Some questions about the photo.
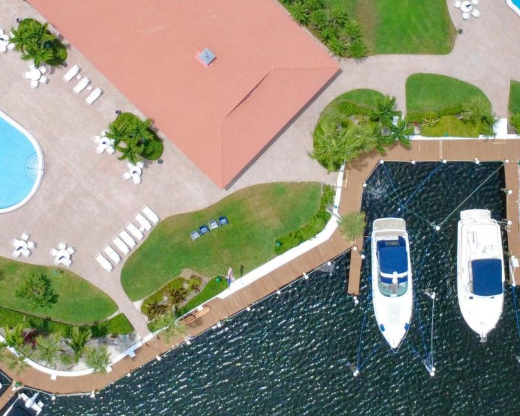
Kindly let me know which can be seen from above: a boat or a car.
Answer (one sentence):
I can see a boat in this picture.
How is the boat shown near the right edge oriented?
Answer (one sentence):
In this picture, the boat shown near the right edge lies up and down.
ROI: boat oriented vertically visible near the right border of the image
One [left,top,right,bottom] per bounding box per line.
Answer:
[454,206,503,344]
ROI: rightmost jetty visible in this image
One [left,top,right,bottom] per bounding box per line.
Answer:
[504,161,520,285]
